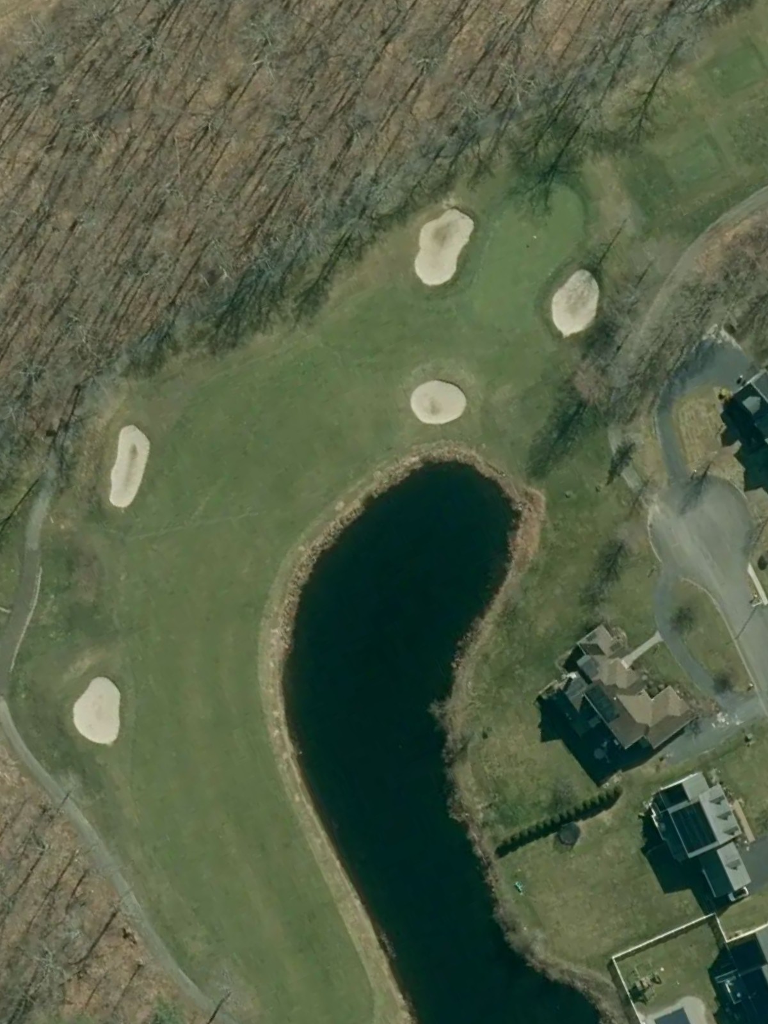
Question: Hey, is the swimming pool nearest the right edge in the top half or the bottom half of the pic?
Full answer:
The bottom half of the photo is where the swimming pool nearest the right edge is.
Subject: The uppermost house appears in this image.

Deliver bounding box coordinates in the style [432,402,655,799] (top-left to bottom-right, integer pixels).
[734,368,768,442]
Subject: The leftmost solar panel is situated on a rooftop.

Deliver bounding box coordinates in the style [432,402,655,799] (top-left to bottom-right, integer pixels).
[589,683,627,723]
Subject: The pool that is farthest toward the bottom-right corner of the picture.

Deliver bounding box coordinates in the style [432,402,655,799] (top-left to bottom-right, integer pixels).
[634,995,707,1024]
